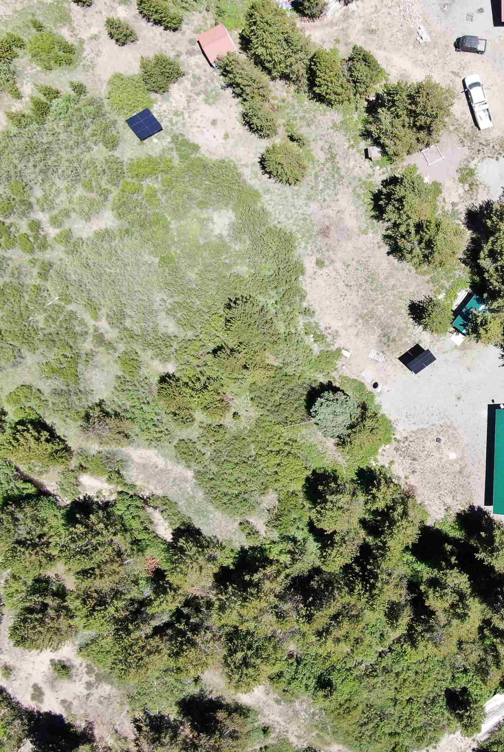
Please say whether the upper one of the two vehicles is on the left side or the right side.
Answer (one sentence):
You can find the upper one of the two vehicles on the right side of the picture.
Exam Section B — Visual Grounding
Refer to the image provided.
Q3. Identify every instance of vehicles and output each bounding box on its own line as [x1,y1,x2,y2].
[466,74,493,132]
[453,36,487,56]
